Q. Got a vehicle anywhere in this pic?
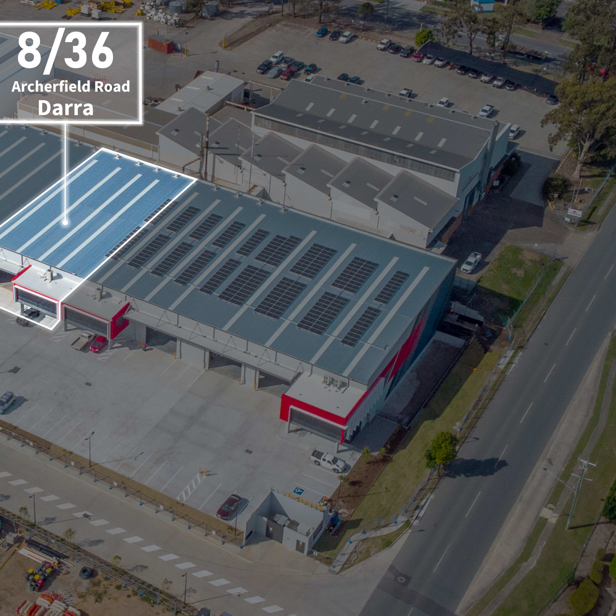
Yes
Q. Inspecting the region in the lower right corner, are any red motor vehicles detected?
No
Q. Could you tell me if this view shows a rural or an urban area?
urban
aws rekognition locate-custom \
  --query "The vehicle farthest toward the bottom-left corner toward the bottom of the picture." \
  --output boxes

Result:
[215,492,241,520]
